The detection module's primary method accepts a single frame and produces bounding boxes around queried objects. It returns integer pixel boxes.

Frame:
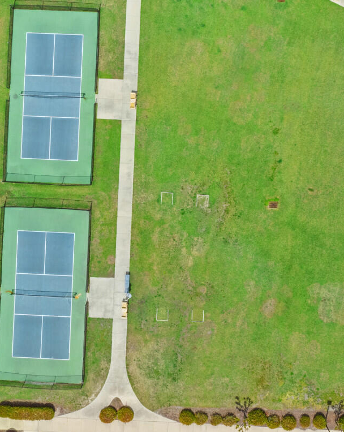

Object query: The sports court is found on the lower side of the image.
[0,207,89,384]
